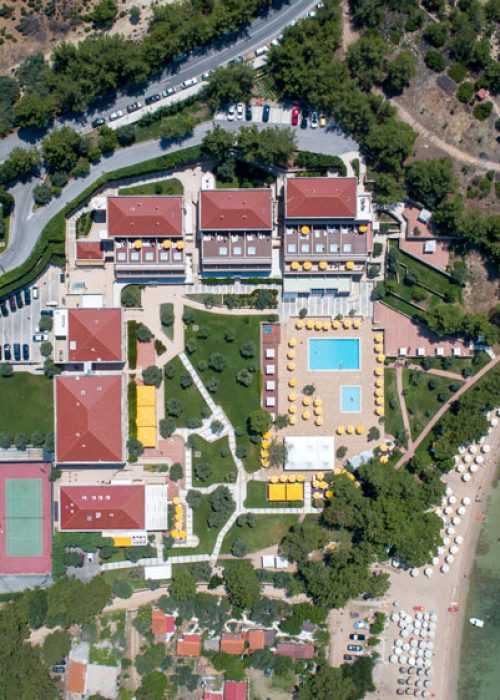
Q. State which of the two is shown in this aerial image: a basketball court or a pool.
pool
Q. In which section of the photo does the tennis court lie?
bottom left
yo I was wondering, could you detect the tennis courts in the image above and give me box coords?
[0,463,52,575]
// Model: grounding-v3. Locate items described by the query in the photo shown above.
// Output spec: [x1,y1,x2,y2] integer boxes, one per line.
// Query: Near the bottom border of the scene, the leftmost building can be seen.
[66,636,90,694]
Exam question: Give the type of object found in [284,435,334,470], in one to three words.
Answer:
tent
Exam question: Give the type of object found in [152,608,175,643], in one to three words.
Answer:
house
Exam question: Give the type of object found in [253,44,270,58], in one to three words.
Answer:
vehicle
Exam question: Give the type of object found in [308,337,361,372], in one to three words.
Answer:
swimming pool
